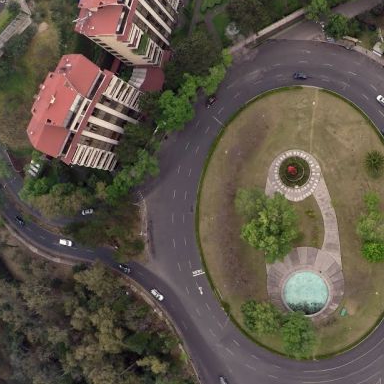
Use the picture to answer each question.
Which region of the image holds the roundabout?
right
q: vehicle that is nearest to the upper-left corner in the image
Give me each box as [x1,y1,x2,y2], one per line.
[26,160,41,174]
